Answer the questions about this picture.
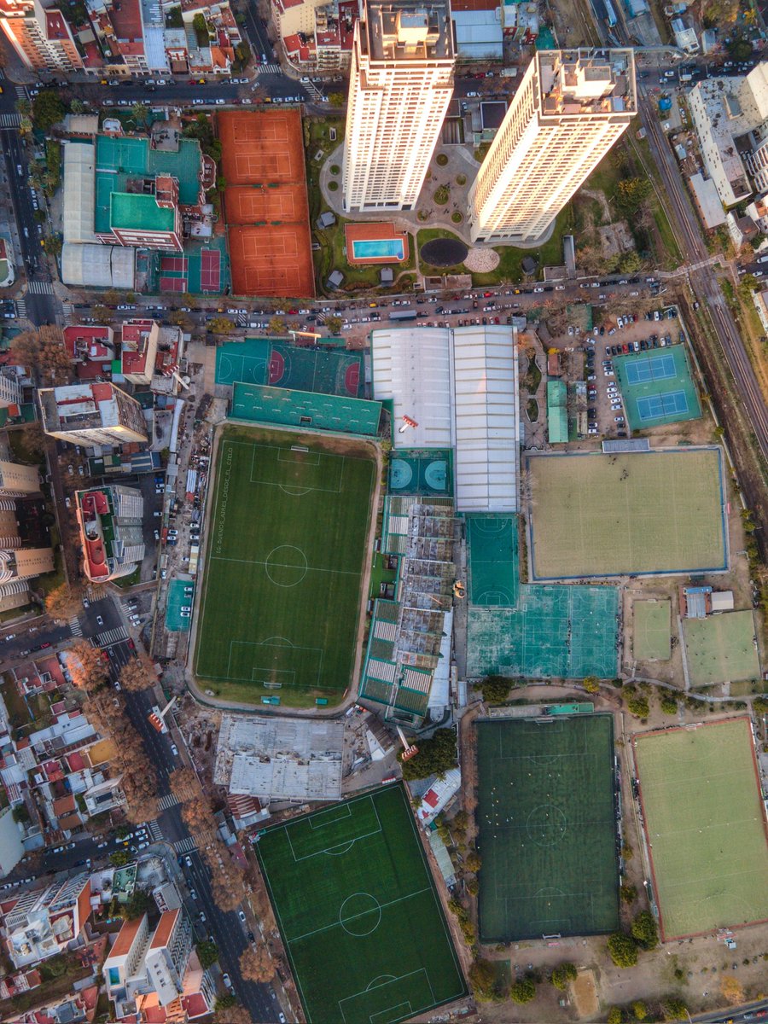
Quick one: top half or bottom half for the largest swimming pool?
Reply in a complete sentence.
The top half of the photo is where the largest swimming pool is.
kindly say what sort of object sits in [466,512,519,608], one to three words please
sports court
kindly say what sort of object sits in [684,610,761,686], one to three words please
soccer field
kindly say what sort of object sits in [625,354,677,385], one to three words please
tennis court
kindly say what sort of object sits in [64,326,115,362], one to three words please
building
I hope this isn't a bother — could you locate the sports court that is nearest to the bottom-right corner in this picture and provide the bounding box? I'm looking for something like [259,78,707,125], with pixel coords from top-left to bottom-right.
[571,966,602,1020]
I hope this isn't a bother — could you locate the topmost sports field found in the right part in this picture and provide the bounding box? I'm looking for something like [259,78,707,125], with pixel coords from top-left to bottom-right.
[527,448,727,579]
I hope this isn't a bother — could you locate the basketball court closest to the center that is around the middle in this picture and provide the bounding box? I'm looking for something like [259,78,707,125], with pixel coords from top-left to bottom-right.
[389,449,453,495]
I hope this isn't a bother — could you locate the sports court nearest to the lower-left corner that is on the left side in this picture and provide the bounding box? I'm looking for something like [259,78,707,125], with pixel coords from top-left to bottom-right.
[166,579,193,631]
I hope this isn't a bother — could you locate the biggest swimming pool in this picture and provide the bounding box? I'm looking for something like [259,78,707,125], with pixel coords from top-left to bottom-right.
[346,223,409,264]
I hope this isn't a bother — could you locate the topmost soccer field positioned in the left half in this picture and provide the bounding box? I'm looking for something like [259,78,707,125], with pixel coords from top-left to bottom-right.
[196,441,375,688]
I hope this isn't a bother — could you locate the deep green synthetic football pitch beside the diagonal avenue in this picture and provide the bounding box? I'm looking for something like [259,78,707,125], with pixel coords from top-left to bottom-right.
[251,780,470,1024]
